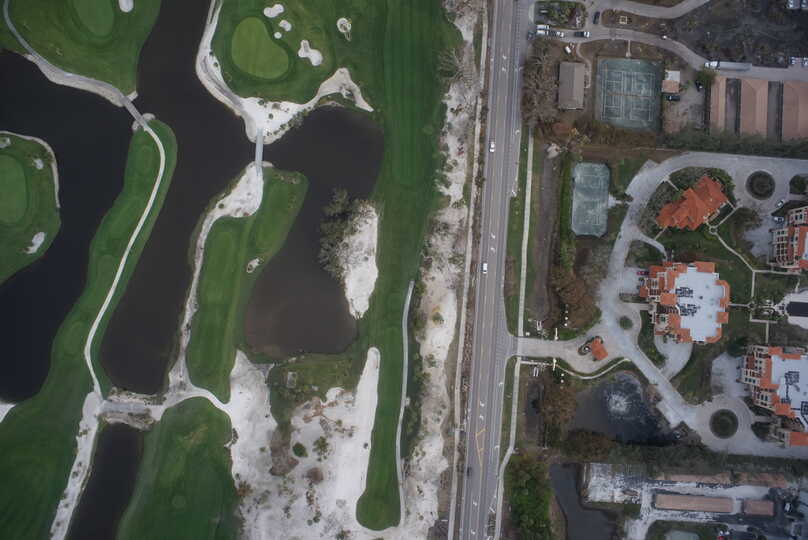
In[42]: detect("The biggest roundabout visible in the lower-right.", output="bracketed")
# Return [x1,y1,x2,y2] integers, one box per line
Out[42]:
[705,404,743,442]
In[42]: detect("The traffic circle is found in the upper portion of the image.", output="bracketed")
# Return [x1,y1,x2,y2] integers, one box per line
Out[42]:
[744,167,778,202]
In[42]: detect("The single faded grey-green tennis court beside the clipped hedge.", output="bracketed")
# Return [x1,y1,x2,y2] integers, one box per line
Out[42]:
[572,161,612,237]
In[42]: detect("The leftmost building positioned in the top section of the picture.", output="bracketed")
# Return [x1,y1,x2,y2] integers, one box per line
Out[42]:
[558,60,585,111]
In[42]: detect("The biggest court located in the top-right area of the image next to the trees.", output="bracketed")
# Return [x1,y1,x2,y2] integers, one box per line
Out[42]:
[596,54,667,131]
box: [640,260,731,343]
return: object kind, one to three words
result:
building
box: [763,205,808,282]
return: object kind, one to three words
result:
building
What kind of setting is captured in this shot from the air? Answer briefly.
golf course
